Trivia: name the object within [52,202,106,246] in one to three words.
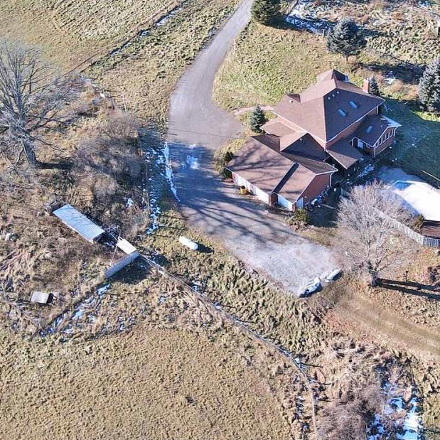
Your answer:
shed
